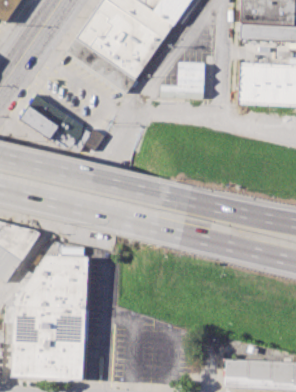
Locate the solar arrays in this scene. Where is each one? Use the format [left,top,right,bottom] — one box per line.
[56,317,82,341]
[16,318,38,341]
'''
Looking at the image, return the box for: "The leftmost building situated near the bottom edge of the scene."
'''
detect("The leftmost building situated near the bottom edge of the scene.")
[10,256,90,381]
